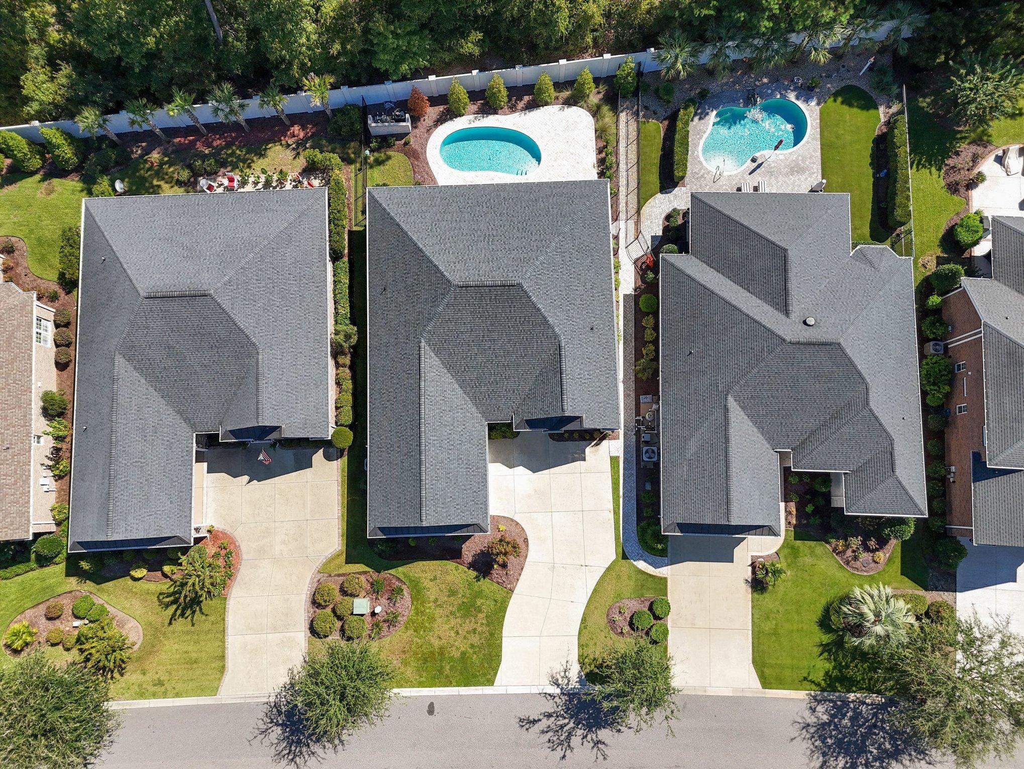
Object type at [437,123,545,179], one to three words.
swimming pool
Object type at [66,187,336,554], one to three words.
house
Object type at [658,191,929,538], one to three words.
house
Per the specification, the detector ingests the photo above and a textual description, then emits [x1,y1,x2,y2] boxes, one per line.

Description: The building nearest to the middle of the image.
[365,178,623,540]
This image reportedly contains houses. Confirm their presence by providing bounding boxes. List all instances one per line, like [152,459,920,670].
[0,281,57,540]
[658,191,929,538]
[936,214,1024,550]
[66,187,336,554]
[365,178,623,540]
